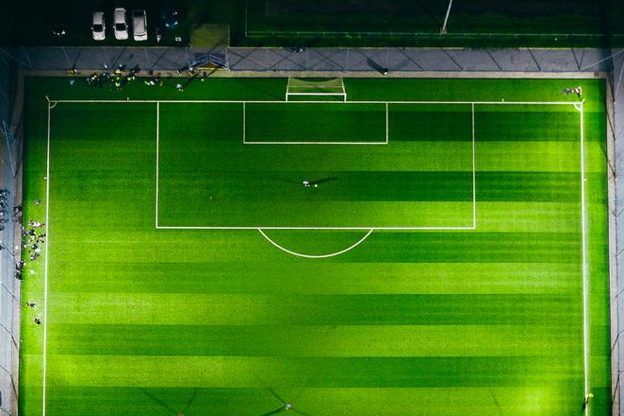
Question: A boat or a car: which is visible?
car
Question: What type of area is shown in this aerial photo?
sports ground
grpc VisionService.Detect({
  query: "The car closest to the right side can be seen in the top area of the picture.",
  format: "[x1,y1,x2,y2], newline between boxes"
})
[162,0,179,35]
